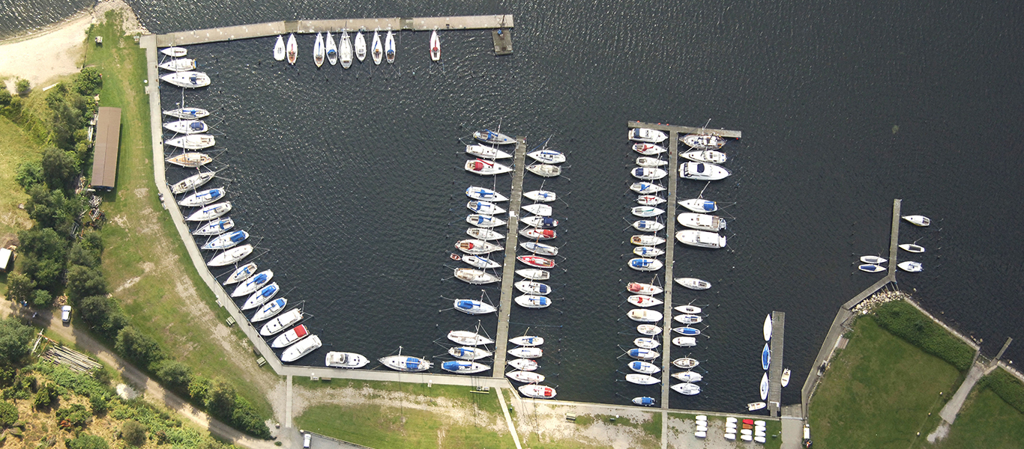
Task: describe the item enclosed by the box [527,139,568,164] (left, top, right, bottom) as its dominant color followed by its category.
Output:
white boat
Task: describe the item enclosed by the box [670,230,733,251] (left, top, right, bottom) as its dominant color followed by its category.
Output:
white boat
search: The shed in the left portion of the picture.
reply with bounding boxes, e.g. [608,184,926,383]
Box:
[91,107,122,189]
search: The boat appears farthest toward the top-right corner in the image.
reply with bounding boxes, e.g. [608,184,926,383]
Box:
[900,213,939,229]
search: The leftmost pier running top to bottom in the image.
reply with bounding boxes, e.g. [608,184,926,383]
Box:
[493,136,526,377]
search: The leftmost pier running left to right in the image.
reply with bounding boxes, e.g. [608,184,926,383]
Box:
[175,20,285,46]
